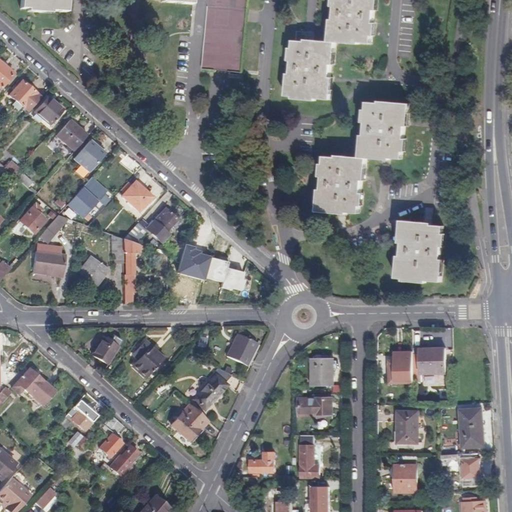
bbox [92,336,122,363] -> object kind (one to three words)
house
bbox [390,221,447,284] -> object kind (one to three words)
building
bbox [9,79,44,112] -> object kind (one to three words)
house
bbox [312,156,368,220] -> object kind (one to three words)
building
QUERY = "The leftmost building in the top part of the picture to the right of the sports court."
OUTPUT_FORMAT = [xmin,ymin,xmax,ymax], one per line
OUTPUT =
[281,39,337,104]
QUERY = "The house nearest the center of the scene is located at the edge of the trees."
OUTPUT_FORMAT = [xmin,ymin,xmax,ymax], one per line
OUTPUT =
[179,245,246,290]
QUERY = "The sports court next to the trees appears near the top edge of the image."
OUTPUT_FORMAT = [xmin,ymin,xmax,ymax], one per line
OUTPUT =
[202,0,246,72]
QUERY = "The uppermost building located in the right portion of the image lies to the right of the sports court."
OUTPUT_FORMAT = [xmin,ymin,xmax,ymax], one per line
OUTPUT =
[324,0,380,48]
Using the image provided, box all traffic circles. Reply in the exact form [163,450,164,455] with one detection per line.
[276,288,332,344]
